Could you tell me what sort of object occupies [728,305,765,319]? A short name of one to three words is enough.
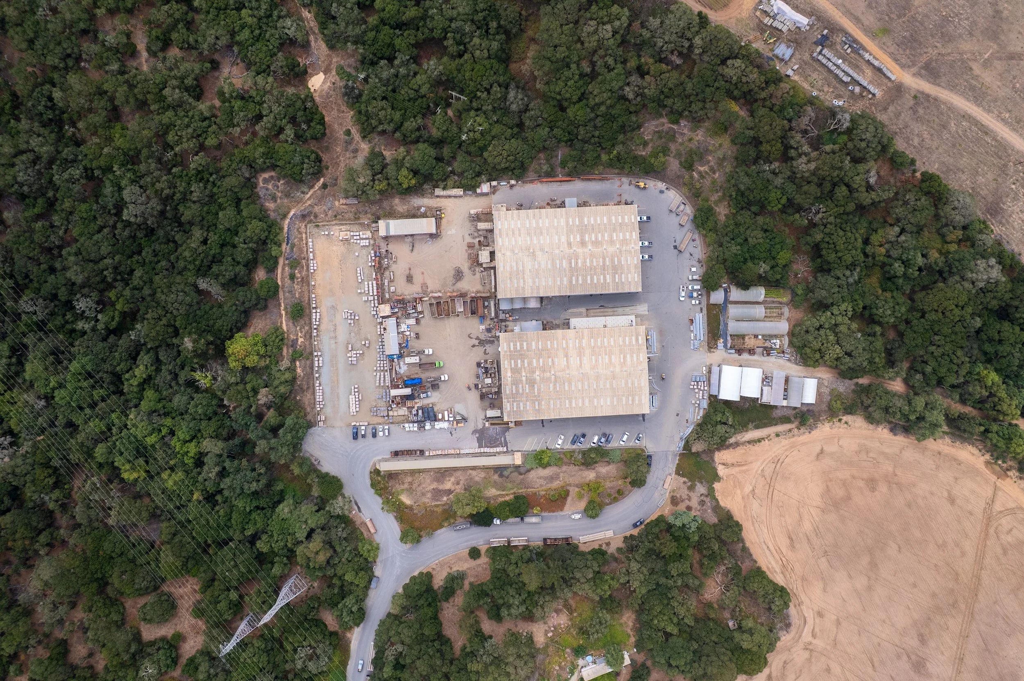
greenhouse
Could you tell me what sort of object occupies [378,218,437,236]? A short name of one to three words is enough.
shed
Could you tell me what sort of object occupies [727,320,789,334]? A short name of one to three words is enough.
greenhouse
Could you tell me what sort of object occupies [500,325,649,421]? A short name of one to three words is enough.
building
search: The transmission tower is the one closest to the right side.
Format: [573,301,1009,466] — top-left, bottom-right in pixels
[257,571,313,629]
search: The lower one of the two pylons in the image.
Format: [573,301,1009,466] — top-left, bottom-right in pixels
[219,621,260,659]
